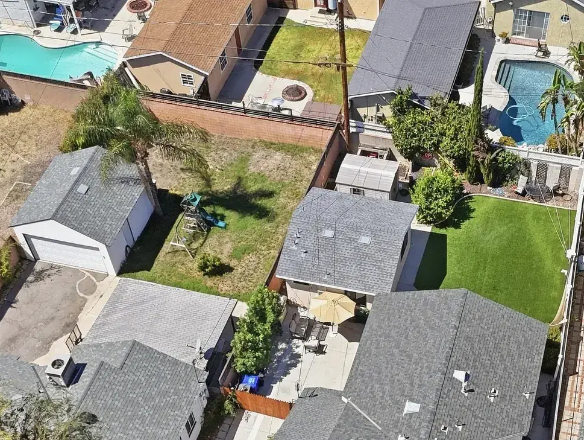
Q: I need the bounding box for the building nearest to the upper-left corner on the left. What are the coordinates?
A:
[4,0,81,34]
